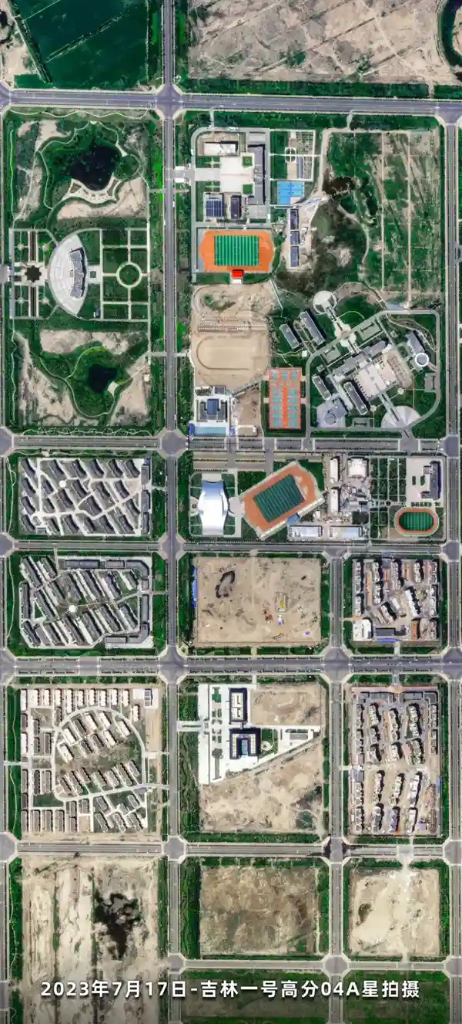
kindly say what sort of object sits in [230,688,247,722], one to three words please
building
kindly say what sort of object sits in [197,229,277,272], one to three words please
running track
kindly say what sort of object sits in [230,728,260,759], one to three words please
building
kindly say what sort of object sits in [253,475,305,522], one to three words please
sports field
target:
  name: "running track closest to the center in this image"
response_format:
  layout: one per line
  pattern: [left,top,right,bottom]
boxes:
[241,462,323,539]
